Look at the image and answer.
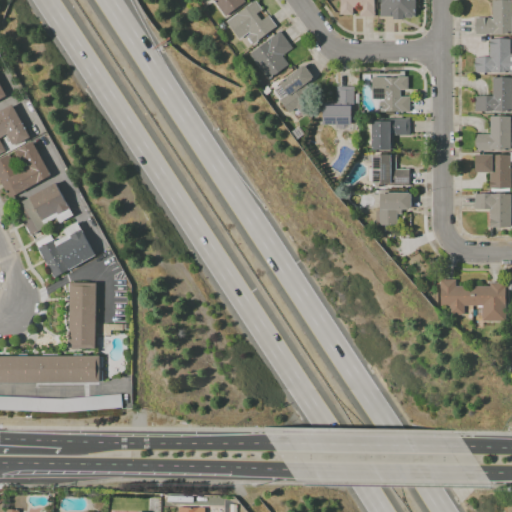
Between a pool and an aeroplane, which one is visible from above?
pool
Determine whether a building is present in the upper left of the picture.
Yes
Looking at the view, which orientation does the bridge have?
horizontally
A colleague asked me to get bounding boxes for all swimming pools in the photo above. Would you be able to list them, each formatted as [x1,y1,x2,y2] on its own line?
[328,136,356,178]
[58,496,98,512]
[26,494,50,512]
[346,162,372,186]
[102,334,126,378]
[362,74,380,112]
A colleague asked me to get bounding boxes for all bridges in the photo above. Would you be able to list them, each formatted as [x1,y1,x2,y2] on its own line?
[262,428,494,486]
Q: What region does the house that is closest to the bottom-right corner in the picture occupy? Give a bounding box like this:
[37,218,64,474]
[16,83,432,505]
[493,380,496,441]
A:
[440,280,506,320]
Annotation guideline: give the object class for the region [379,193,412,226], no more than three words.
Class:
house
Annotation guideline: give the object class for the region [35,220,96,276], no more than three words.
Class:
building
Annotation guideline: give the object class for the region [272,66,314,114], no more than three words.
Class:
house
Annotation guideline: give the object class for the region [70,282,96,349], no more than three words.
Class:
building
